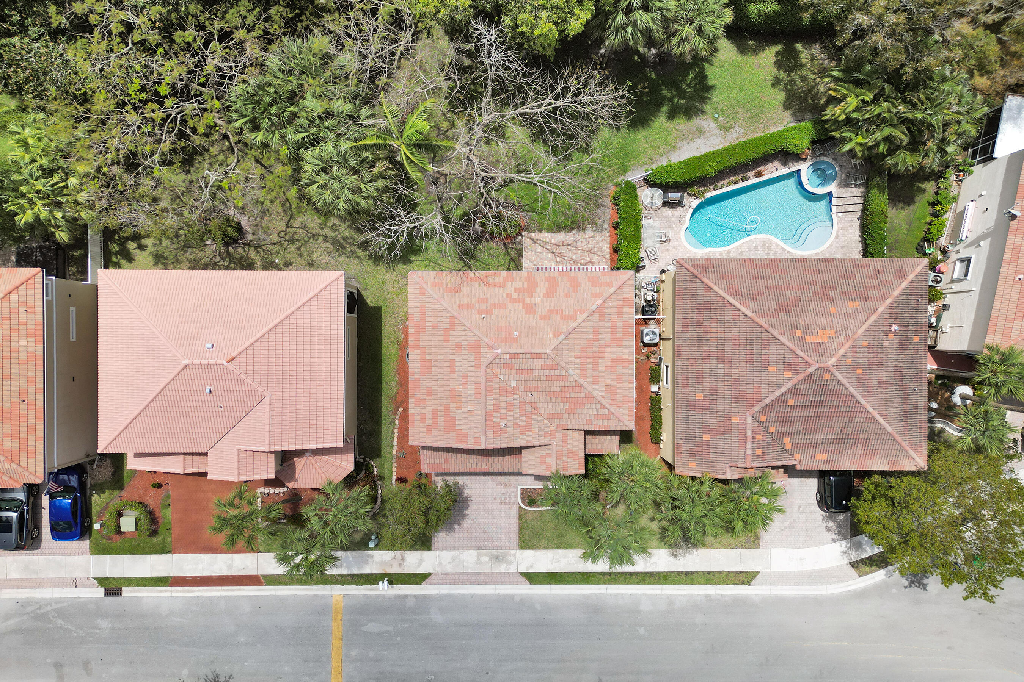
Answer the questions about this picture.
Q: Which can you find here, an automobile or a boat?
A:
automobile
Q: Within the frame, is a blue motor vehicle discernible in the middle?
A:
No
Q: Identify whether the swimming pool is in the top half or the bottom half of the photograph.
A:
top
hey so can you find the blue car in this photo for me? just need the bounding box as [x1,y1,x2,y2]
[50,463,89,541]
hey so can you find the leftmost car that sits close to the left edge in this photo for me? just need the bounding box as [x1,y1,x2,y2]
[0,482,37,552]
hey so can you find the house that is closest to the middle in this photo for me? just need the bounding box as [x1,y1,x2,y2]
[407,269,636,475]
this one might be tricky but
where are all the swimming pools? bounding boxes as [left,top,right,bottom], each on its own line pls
[679,153,843,256]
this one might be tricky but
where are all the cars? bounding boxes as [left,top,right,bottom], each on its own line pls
[817,471,856,514]
[50,463,89,541]
[0,482,37,552]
